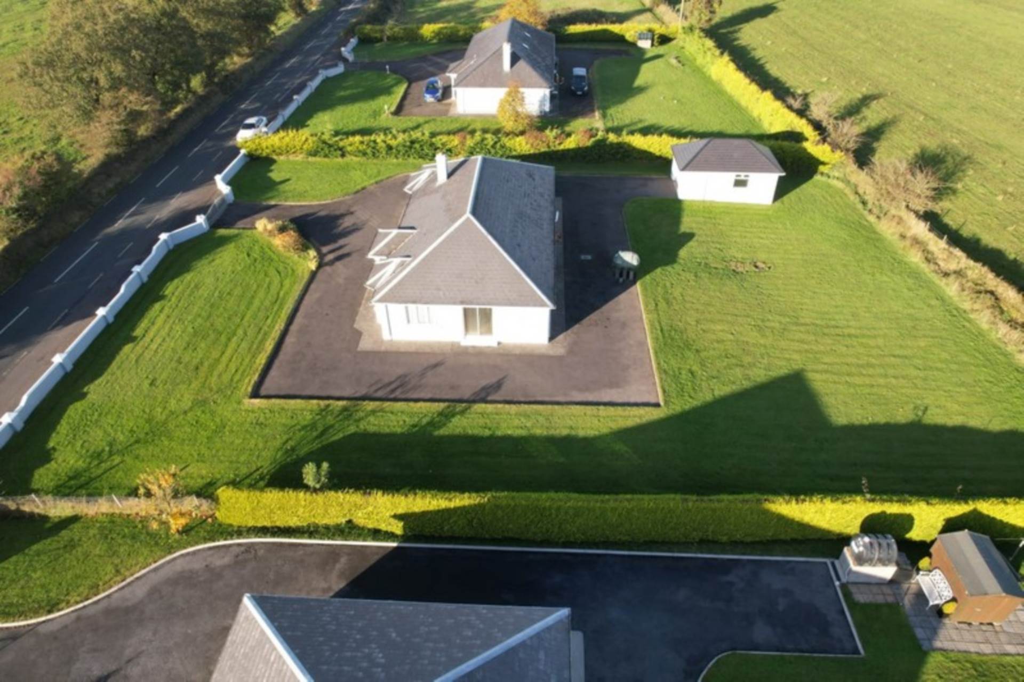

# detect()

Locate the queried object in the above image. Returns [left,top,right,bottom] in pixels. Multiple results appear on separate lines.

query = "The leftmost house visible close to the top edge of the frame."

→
[443,18,554,111]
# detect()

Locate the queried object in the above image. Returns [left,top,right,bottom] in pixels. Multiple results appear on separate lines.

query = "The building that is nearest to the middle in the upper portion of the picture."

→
[365,149,556,342]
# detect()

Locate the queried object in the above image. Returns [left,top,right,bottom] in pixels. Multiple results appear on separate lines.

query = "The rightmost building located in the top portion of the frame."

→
[667,139,786,201]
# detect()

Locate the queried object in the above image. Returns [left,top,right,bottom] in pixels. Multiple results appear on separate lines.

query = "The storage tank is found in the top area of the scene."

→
[613,248,641,282]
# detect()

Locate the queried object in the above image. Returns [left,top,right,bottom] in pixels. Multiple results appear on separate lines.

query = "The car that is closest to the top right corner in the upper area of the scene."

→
[568,68,588,92]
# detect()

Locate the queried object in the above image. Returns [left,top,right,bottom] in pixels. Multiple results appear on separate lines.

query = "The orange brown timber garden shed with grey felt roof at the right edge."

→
[920,531,1024,627]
